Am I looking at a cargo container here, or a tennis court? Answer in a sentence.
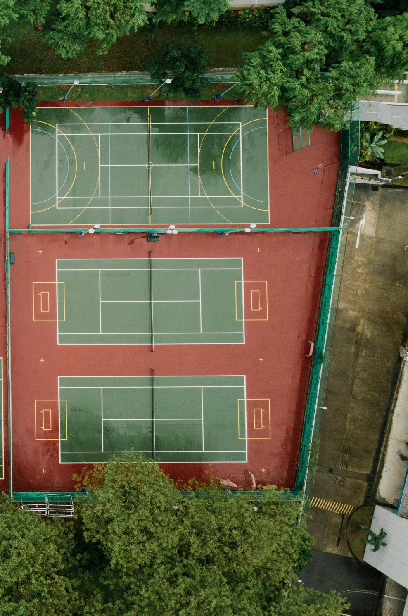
The image shows a tennis court.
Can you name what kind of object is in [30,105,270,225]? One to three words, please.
tennis court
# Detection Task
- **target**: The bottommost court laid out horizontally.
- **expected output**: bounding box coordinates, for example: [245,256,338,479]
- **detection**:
[35,375,271,473]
